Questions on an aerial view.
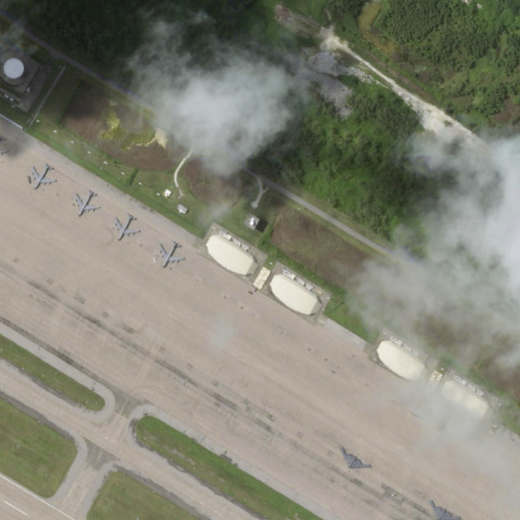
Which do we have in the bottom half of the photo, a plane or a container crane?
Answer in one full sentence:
There is a plane in the bottom half of the photo.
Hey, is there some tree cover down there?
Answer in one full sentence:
Yes, the picture does contain tree cover.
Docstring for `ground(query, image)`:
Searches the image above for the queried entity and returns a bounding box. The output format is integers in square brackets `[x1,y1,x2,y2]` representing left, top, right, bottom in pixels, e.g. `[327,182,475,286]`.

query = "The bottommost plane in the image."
[431,498,462,520]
